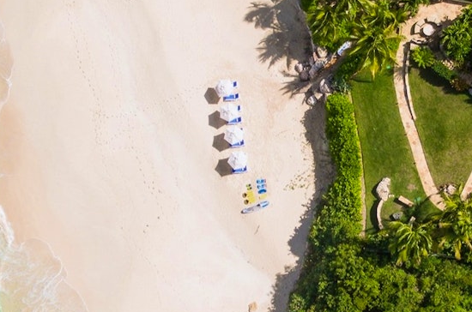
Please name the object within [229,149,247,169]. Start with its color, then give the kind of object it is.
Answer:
white umbrella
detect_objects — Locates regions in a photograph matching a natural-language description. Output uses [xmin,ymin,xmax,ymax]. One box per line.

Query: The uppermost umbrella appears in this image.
[216,80,237,98]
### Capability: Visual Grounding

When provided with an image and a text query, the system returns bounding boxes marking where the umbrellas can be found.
[219,102,238,121]
[224,126,243,145]
[229,149,247,169]
[216,80,237,98]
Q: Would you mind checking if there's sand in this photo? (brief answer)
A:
Yes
